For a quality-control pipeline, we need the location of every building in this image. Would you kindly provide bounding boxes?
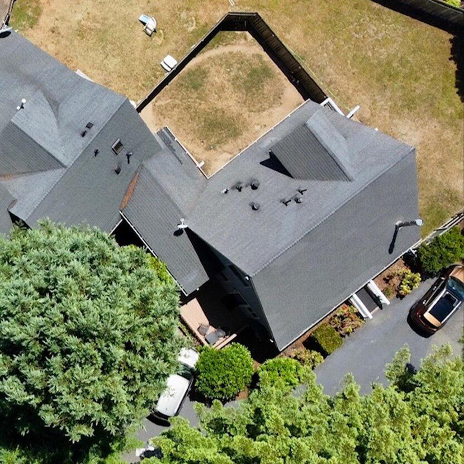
[181,99,426,352]
[0,19,166,255]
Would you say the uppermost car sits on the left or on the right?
right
